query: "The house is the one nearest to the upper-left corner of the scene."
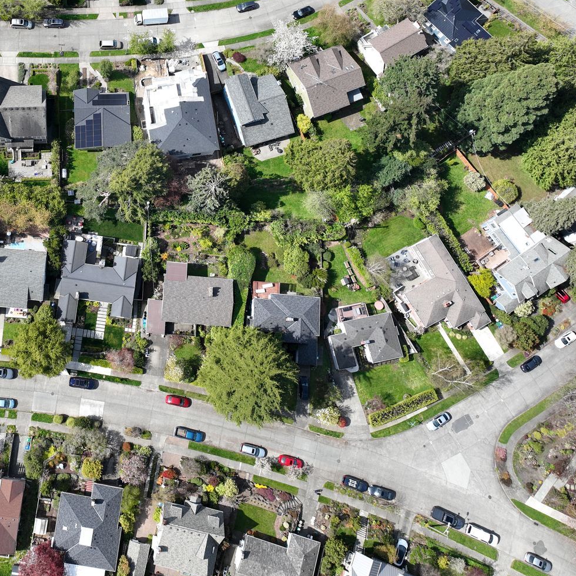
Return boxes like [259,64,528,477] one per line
[0,79,47,151]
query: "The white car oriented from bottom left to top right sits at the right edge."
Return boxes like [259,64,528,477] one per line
[552,330,576,350]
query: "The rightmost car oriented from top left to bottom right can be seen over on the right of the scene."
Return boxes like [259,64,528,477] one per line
[553,283,574,308]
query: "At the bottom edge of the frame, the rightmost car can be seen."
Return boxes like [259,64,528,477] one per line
[522,551,554,574]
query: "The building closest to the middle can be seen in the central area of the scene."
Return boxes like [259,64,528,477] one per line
[252,294,320,367]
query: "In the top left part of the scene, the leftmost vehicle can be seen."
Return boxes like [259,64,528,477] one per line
[8,18,34,30]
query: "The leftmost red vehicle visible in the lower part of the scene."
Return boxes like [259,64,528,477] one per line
[164,395,193,409]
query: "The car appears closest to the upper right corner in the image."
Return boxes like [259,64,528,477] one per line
[291,4,316,21]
